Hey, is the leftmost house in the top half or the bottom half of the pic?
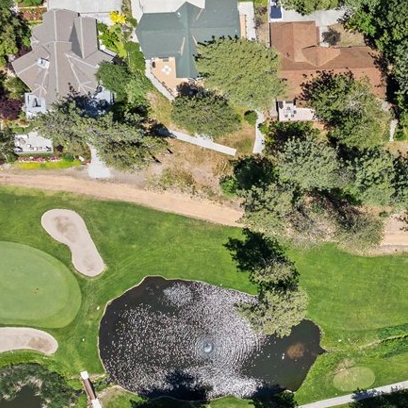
top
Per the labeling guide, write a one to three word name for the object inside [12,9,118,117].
house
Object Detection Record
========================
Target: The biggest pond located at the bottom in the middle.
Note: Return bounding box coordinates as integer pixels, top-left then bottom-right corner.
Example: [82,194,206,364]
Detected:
[100,276,324,399]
